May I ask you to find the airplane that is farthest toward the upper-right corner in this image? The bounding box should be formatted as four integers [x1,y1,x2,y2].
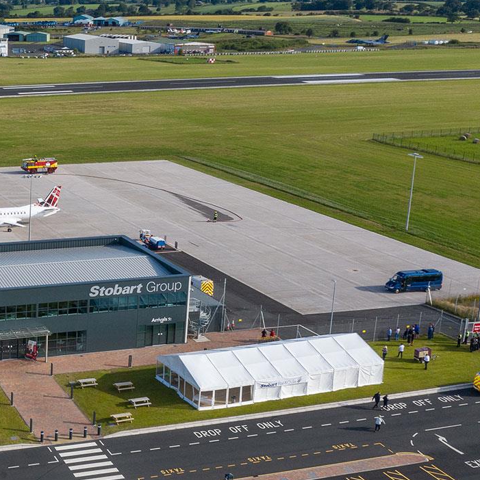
[352,33,391,46]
